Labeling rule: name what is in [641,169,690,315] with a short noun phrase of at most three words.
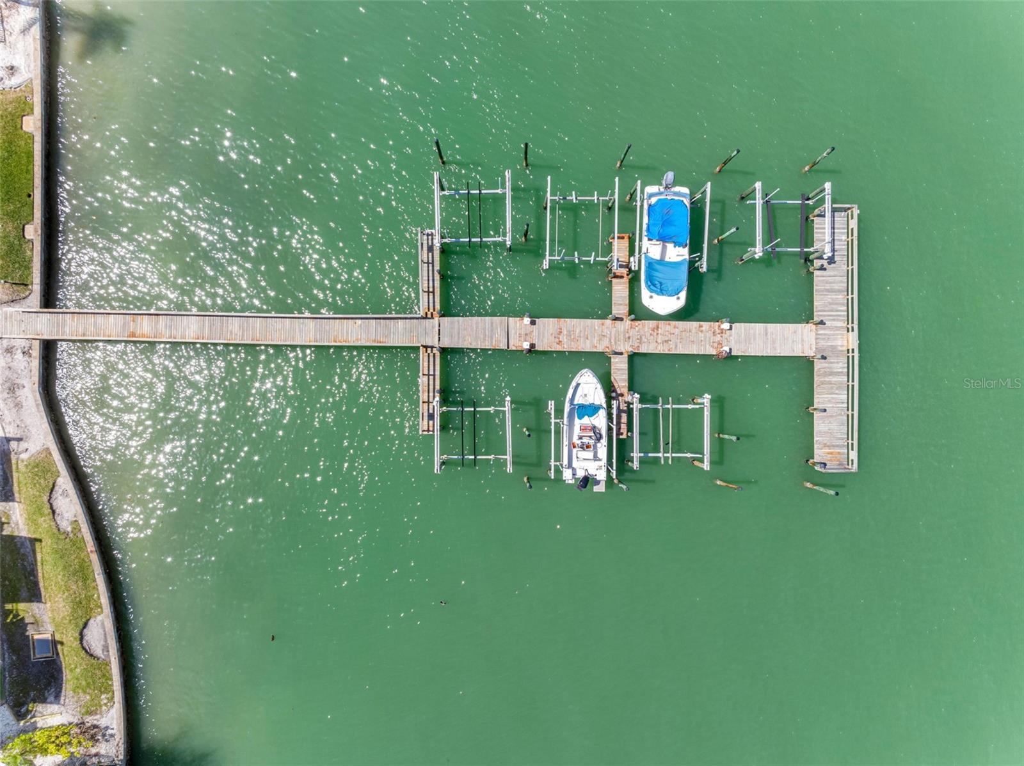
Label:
boat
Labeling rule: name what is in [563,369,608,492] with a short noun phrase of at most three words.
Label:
boat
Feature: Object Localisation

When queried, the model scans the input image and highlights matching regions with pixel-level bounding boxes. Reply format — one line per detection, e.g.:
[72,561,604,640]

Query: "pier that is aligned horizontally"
[0,205,858,472]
